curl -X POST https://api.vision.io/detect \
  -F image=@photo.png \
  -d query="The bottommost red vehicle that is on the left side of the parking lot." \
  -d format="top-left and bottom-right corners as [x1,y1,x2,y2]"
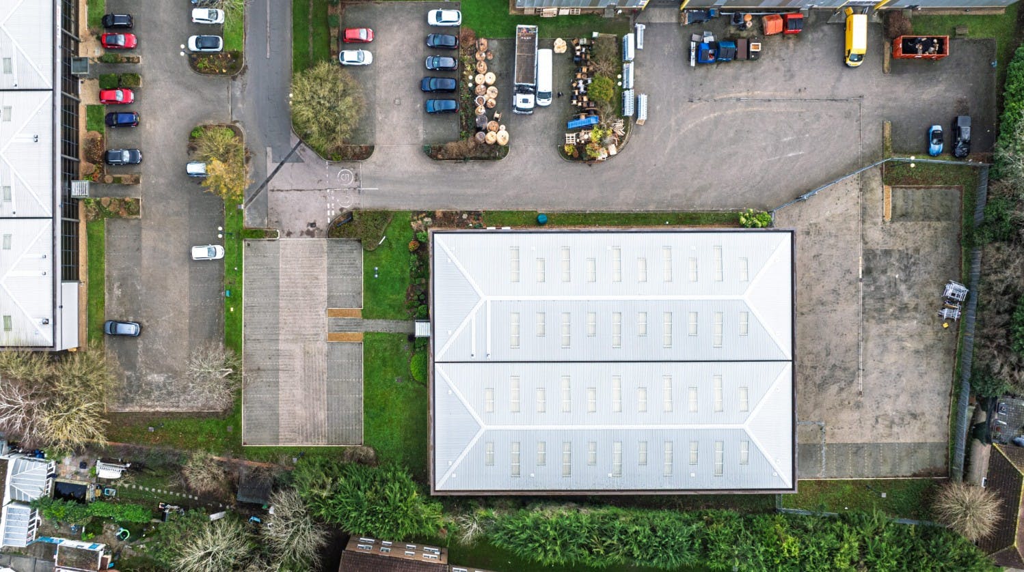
[100,87,136,104]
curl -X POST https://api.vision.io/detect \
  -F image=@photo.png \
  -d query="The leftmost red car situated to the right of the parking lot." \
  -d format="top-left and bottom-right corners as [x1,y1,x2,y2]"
[343,26,374,43]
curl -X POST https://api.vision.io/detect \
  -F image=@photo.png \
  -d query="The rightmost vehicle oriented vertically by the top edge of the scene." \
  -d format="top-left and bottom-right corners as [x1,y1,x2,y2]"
[845,3,868,65]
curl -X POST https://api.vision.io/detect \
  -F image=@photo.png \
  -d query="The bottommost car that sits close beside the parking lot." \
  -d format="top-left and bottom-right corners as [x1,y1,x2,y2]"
[106,320,143,336]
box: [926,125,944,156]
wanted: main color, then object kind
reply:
blue car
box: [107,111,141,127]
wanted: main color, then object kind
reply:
blue car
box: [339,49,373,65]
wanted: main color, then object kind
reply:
white car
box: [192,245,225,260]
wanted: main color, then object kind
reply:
white car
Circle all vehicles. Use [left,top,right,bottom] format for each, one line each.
[192,245,225,260]
[429,8,461,25]
[421,76,456,92]
[339,49,373,65]
[951,115,971,158]
[426,98,458,114]
[106,320,143,336]
[107,111,141,127]
[102,12,134,29]
[343,26,374,43]
[105,148,143,165]
[426,55,457,71]
[427,33,458,49]
[191,9,225,24]
[101,32,138,49]
[189,34,224,51]
[535,47,553,105]
[100,87,136,104]
[514,24,536,115]
[926,125,944,156]
[845,3,868,65]
[188,161,213,176]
